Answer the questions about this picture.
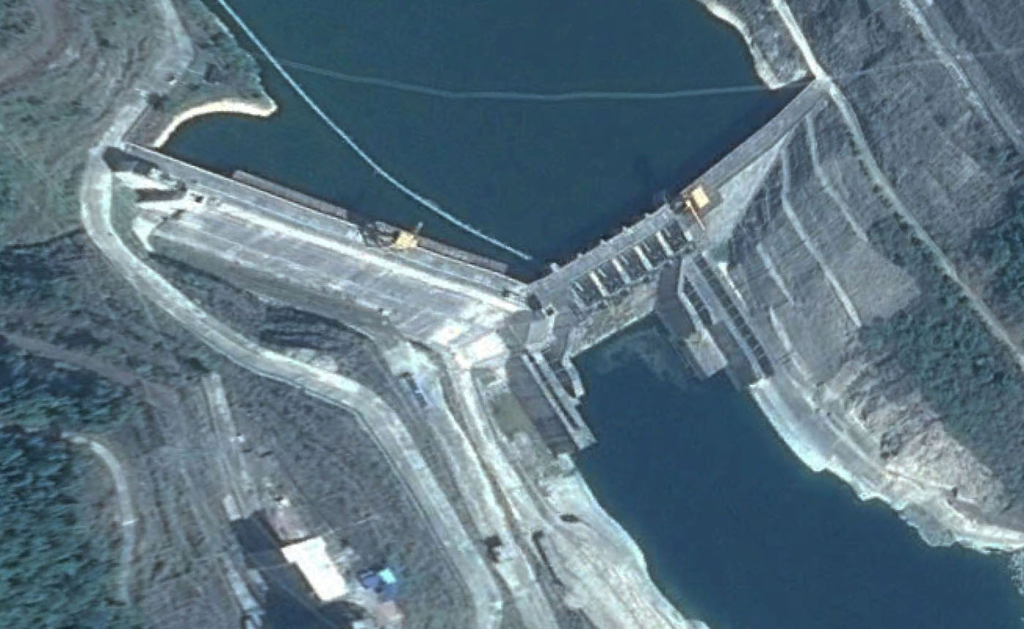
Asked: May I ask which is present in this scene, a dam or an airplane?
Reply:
dam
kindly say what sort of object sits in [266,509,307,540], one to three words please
house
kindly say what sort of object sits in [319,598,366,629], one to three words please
shed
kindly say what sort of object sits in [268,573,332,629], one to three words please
building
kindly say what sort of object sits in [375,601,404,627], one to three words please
house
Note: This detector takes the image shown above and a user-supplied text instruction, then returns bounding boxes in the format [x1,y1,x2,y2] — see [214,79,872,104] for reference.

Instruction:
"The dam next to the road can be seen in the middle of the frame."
[112,78,833,471]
